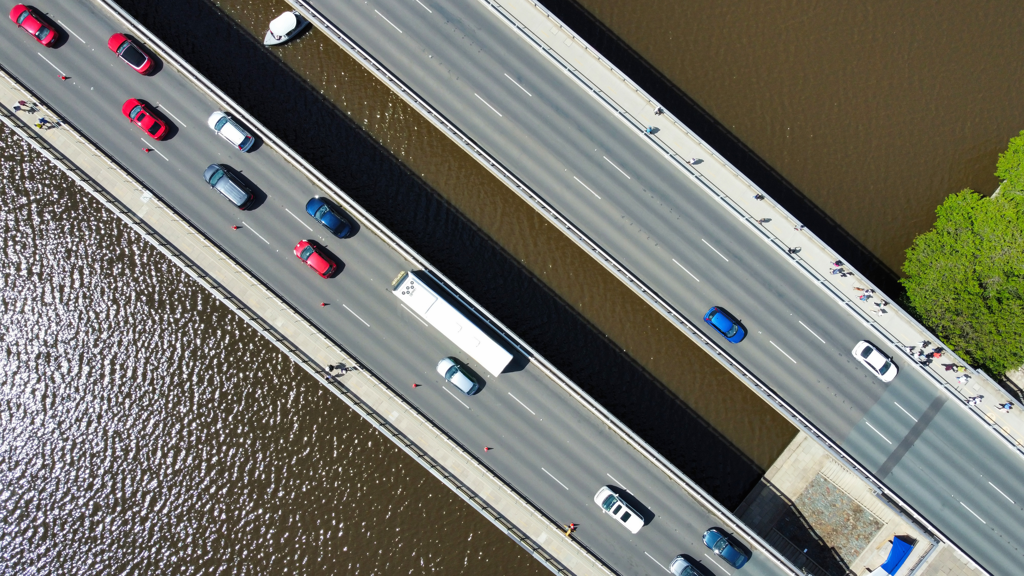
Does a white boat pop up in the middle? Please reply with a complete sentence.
No, looking in the middle, there is no white boat.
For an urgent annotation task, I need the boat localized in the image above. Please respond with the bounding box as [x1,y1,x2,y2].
[265,12,313,51]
